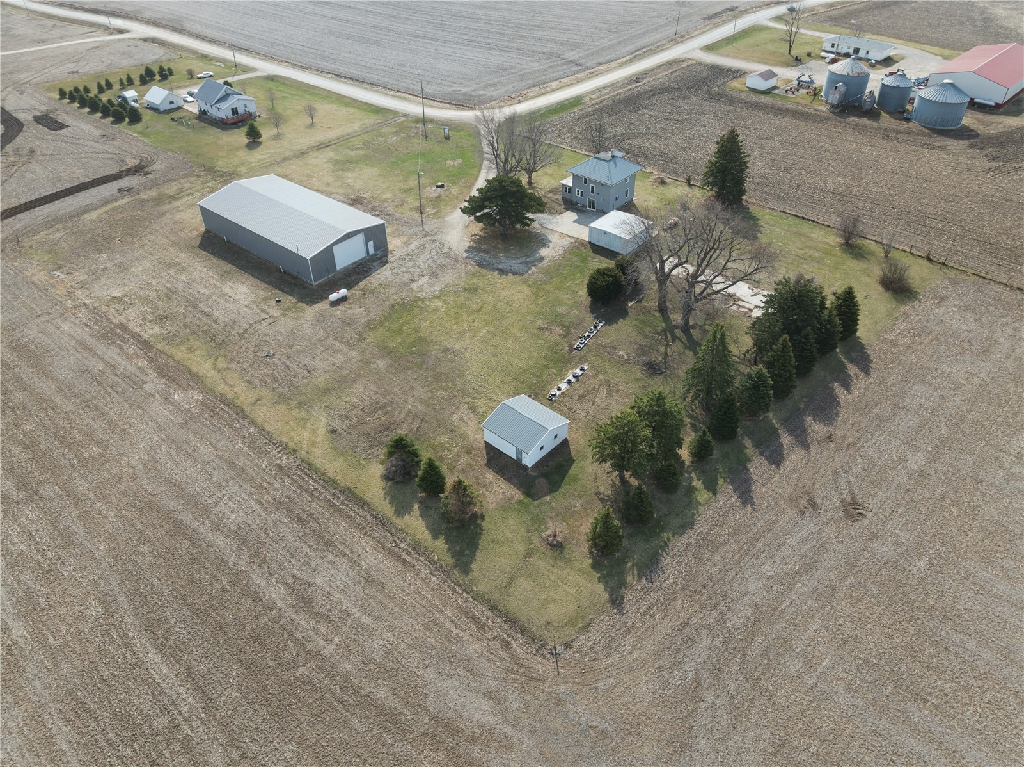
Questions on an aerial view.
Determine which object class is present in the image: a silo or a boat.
silo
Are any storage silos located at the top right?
Yes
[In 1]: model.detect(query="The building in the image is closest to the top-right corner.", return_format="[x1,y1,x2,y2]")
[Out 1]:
[925,42,1024,109]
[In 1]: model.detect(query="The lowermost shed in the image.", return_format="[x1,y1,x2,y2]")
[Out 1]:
[480,395,571,468]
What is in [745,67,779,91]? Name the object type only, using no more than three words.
shed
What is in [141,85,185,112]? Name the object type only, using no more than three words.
building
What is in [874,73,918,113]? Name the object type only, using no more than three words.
silo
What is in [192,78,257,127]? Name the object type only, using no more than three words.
house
